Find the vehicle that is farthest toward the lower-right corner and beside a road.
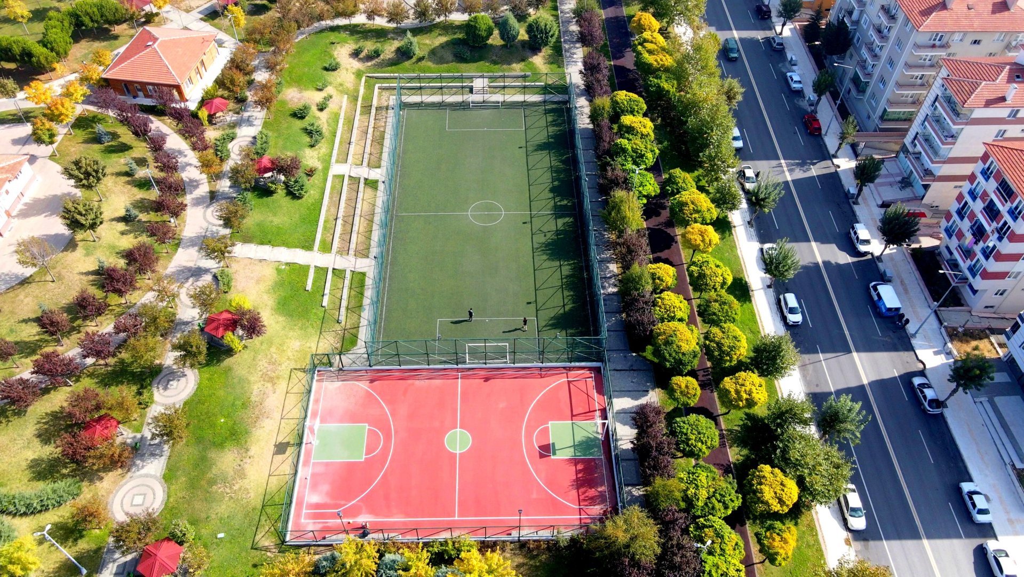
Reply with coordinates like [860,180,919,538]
[979,535,1023,577]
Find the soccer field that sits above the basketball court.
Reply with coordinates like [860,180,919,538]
[368,102,603,366]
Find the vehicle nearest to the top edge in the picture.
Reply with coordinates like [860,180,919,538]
[755,2,773,20]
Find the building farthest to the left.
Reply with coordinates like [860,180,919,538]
[0,150,43,238]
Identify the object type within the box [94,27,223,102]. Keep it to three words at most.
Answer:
building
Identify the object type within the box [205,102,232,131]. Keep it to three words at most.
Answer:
gazebo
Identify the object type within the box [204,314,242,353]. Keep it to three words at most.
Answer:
gazebo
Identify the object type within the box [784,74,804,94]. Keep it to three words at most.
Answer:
car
